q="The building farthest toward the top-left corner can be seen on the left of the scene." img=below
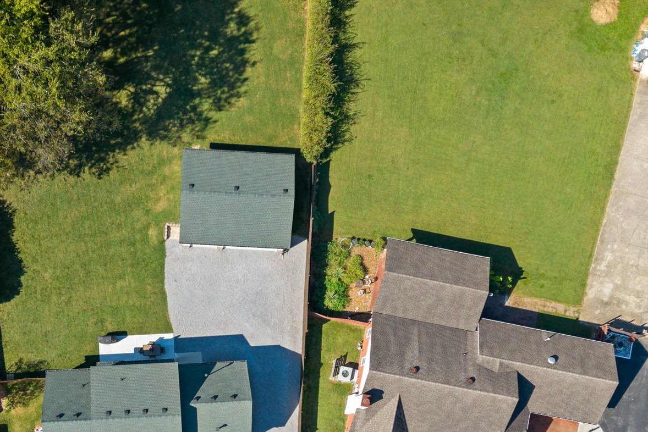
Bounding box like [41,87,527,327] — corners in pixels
[179,147,295,257]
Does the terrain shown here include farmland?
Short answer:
No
